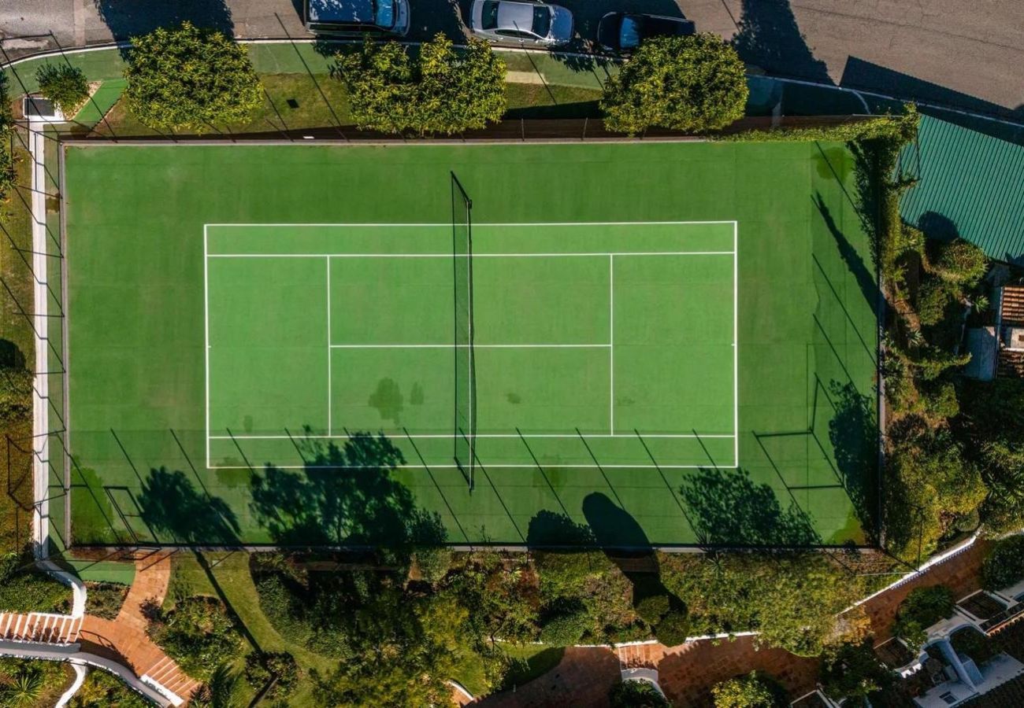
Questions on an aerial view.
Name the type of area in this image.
sports ground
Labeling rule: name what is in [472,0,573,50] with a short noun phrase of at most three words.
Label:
car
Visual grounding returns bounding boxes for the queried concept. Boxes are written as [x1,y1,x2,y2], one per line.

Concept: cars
[300,0,411,41]
[599,4,697,56]
[472,0,573,50]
